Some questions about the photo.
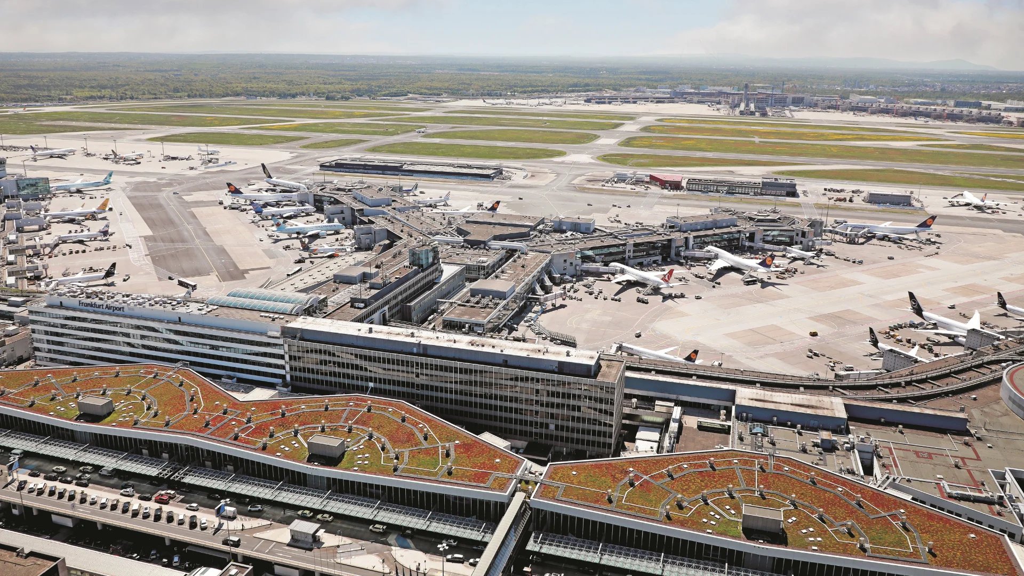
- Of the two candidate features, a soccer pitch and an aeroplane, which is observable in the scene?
aeroplane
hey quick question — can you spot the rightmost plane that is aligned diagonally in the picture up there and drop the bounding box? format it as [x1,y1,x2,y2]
[993,292,1024,321]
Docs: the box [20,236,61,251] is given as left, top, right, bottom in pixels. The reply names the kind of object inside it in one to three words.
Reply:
jet bridge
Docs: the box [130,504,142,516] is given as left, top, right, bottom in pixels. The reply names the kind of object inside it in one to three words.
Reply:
vehicle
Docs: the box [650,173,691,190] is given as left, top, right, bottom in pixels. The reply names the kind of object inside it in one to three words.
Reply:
shed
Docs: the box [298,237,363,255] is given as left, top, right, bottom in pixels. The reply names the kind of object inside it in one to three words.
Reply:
airplane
